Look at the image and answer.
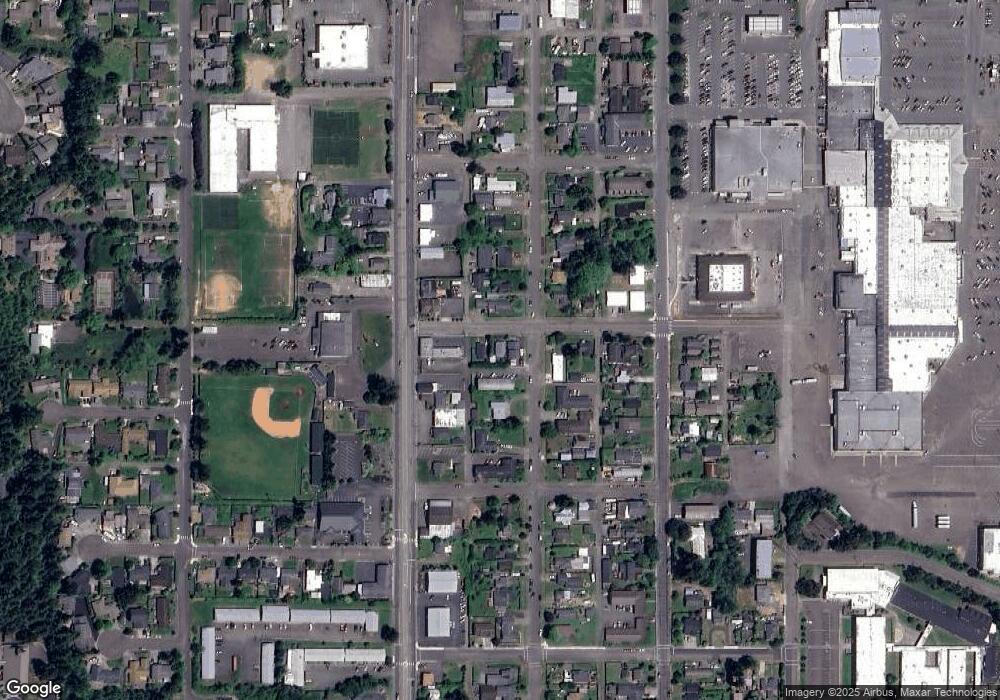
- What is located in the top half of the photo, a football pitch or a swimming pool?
football pitch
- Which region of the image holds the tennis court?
left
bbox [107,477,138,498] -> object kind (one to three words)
house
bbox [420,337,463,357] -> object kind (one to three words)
building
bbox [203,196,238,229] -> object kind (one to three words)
sports field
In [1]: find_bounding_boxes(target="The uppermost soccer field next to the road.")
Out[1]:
[311,103,389,180]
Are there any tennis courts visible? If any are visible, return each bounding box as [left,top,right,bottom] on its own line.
[94,269,115,313]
